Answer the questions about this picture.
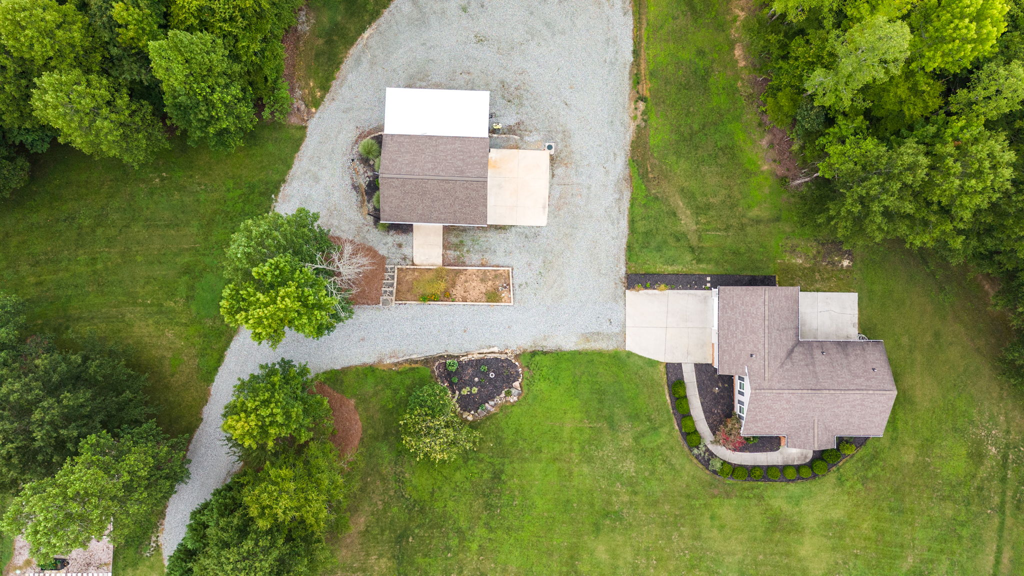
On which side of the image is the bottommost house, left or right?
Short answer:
right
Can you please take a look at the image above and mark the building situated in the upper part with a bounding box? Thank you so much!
[378,87,491,227]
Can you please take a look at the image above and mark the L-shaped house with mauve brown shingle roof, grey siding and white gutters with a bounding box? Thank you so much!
[712,286,896,451]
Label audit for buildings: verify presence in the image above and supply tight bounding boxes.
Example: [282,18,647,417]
[712,286,896,451]
[378,87,491,227]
